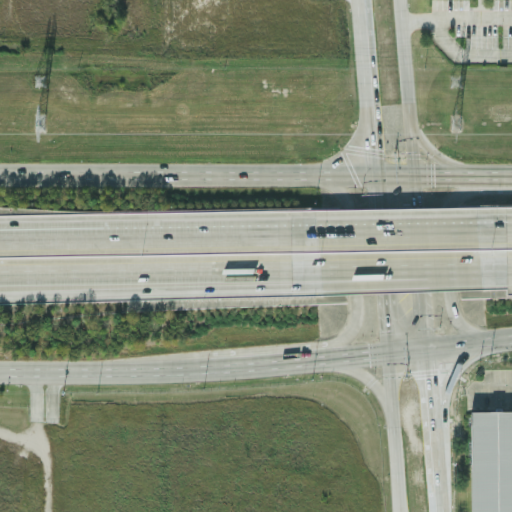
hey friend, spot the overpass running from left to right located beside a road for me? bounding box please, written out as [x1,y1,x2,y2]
[0,206,512,309]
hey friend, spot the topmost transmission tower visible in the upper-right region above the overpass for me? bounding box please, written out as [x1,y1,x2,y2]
[450,72,464,88]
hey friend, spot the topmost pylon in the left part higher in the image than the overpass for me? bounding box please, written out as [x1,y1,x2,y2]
[34,72,48,88]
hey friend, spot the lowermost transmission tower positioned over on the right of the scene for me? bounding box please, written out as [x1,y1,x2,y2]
[452,113,465,132]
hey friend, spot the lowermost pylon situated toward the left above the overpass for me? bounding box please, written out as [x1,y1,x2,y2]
[33,113,46,132]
